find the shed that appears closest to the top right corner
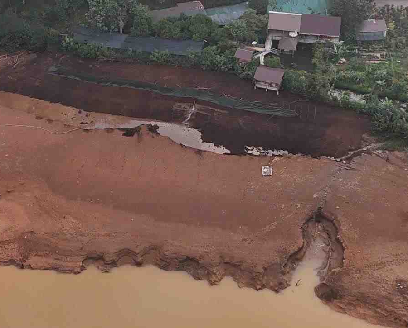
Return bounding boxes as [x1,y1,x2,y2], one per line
[356,19,386,45]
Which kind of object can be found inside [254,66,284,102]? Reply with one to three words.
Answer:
shed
